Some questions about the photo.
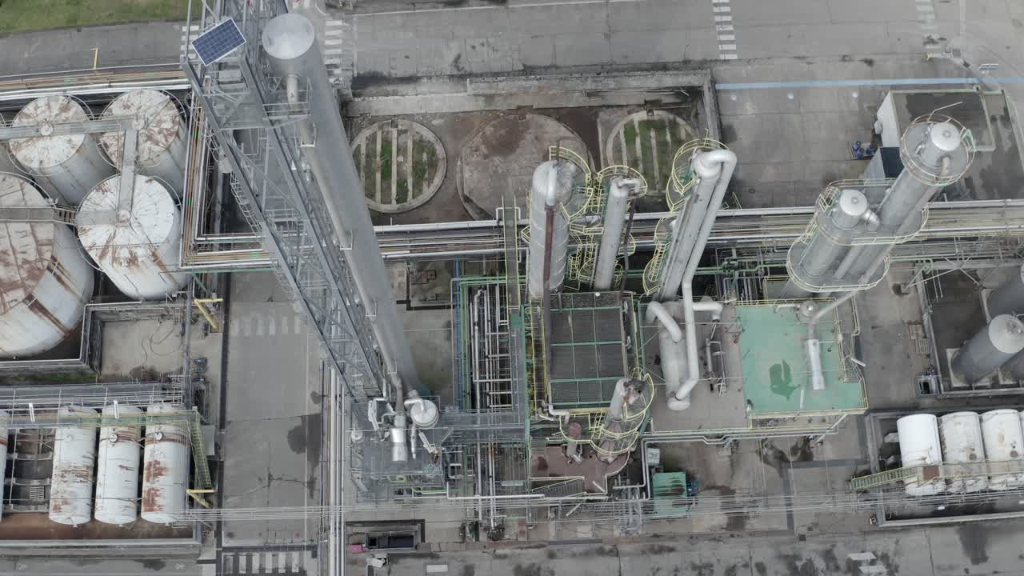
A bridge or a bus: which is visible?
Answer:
bridge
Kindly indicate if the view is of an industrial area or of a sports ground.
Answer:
industrial area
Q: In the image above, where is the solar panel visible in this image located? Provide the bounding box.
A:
[189,17,250,67]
